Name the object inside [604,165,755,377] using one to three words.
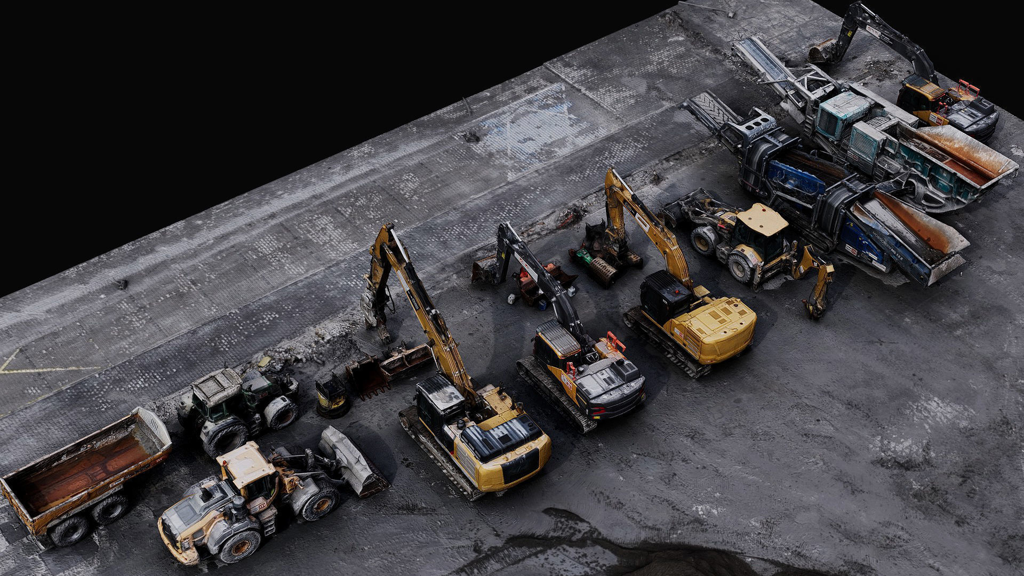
work vehicle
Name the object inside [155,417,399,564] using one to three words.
work vehicle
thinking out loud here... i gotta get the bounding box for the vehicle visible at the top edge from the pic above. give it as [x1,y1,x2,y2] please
[831,1,998,139]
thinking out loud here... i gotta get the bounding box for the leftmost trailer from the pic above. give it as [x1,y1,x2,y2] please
[2,394,204,549]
